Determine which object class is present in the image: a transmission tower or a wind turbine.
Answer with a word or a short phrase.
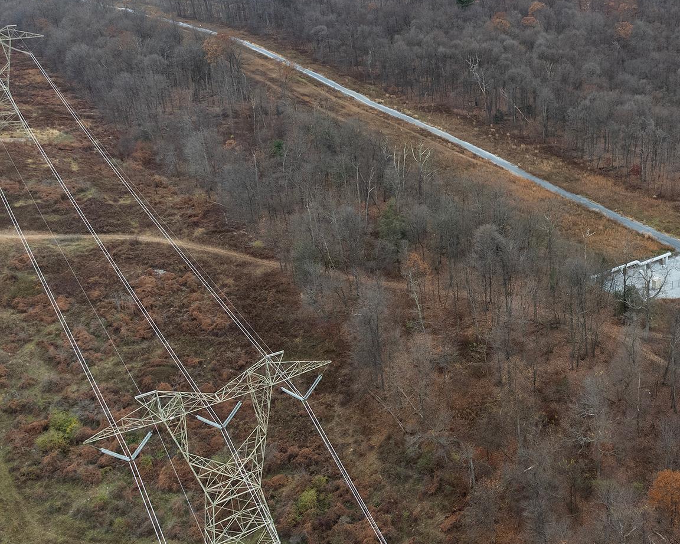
transmission tower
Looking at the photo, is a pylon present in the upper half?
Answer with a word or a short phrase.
Yes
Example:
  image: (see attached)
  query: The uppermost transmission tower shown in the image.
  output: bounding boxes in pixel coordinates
[0,26,41,140]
